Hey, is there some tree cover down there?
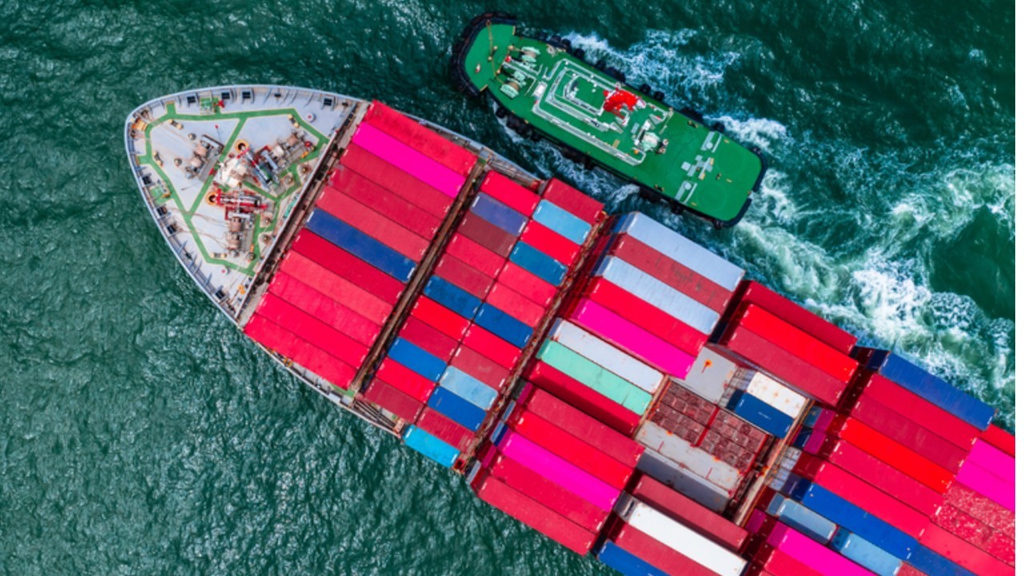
No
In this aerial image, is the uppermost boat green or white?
green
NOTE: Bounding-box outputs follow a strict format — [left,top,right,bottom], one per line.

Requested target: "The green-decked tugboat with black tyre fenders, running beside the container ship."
[450,12,767,233]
